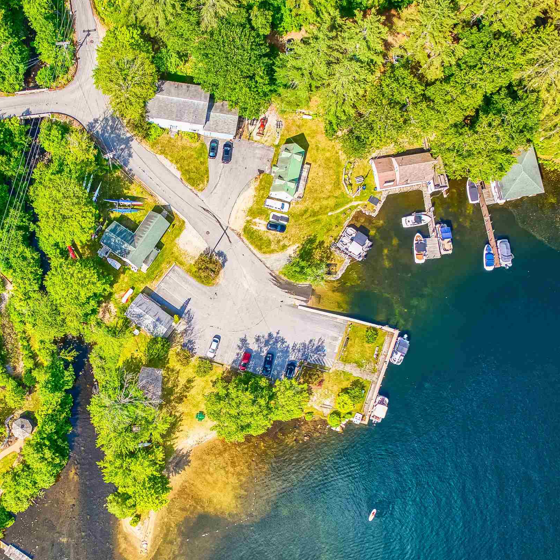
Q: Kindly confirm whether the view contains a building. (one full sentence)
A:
Yes, this view includes a building.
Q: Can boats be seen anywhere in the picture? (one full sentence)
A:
Yes, I can see a boat in this picture.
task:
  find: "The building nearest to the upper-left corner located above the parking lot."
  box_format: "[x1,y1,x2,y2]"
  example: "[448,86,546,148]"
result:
[146,78,209,137]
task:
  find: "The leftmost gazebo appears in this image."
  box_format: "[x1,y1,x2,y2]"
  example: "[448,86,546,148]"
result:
[13,419,32,438]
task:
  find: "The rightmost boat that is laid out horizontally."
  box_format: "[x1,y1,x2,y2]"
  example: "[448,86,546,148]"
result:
[398,213,431,229]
